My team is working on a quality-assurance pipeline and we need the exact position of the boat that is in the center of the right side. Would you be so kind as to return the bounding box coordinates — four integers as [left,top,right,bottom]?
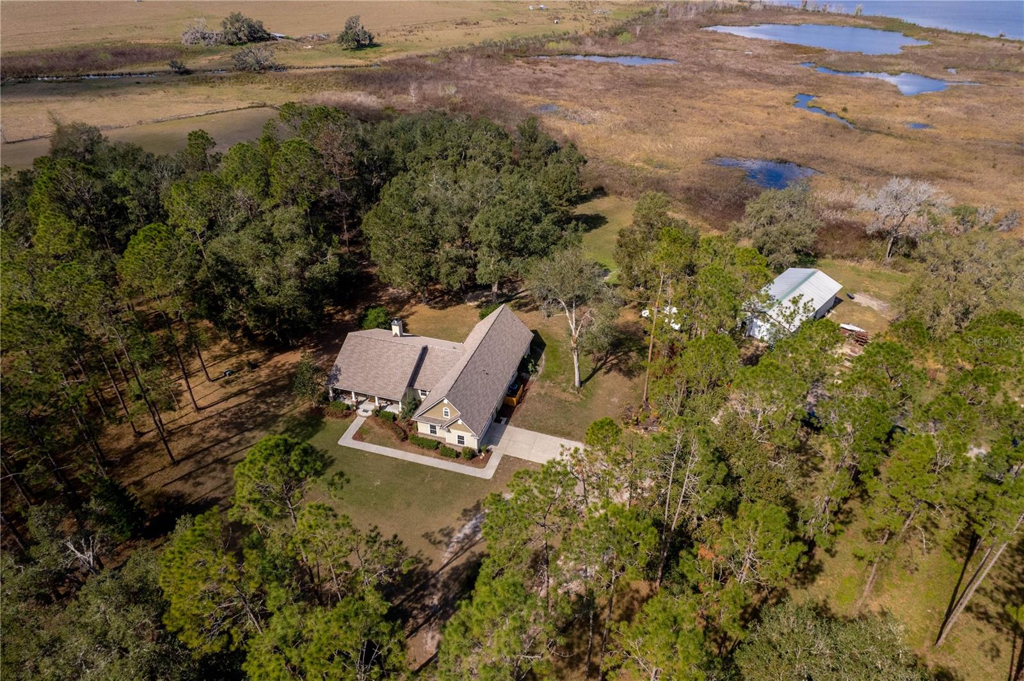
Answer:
[837,322,870,336]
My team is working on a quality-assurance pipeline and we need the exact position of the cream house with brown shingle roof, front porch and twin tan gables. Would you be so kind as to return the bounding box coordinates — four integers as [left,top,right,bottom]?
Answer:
[328,304,534,453]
